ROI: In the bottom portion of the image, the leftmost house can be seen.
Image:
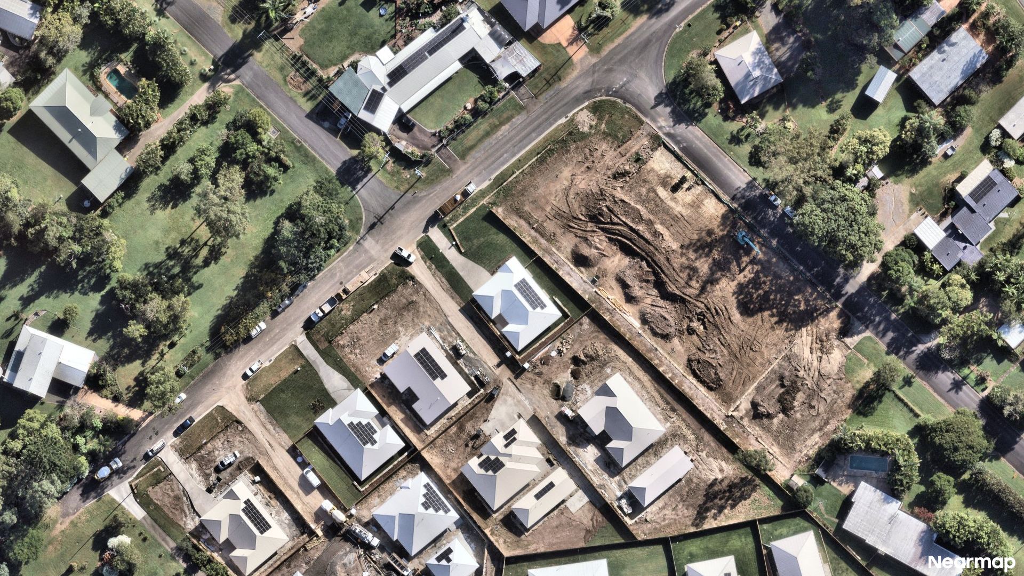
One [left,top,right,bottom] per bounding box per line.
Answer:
[2,324,95,398]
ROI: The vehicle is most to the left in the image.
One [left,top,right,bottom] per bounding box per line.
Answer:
[86,450,129,486]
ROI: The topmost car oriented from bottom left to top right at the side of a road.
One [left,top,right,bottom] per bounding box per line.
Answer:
[333,108,354,134]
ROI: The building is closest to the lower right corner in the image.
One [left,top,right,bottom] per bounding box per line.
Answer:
[842,481,966,576]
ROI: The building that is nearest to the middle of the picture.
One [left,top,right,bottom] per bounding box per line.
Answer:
[472,256,563,352]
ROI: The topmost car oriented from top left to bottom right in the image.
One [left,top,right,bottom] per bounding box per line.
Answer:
[397,111,421,133]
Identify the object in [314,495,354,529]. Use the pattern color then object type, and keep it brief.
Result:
white truck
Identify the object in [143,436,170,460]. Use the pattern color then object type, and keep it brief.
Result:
white truck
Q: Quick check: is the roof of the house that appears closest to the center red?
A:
No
